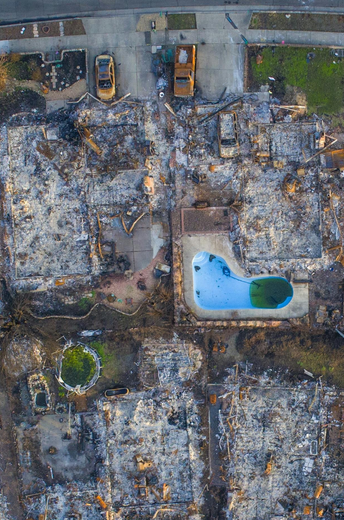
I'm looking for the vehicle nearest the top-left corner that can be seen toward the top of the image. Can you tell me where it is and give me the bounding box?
[94,53,116,100]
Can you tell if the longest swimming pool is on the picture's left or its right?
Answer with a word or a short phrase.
right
